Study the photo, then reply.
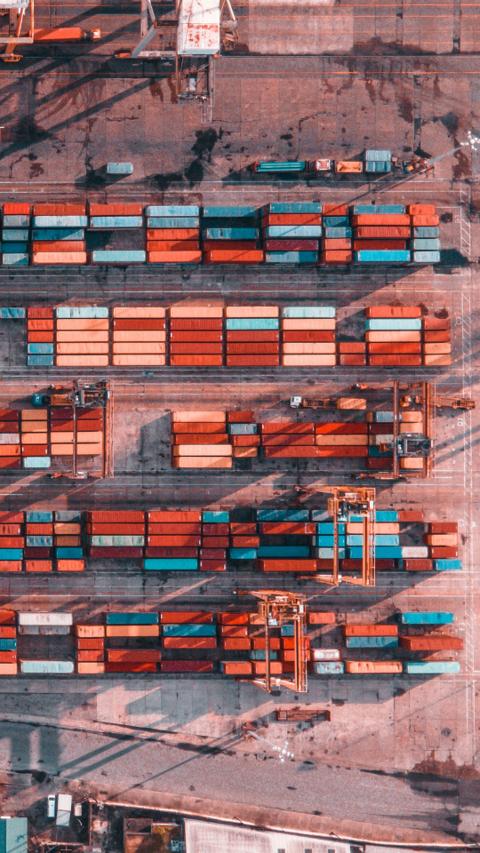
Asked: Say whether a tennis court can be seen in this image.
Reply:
No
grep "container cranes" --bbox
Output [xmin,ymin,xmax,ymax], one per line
[298,482,381,588]
[234,585,312,697]
[50,377,116,482]
[354,377,441,482]
[122,0,252,123]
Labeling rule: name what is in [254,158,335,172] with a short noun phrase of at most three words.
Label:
vehicle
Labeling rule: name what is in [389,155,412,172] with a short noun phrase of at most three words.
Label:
work vehicle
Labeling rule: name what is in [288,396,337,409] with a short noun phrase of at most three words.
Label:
vehicle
